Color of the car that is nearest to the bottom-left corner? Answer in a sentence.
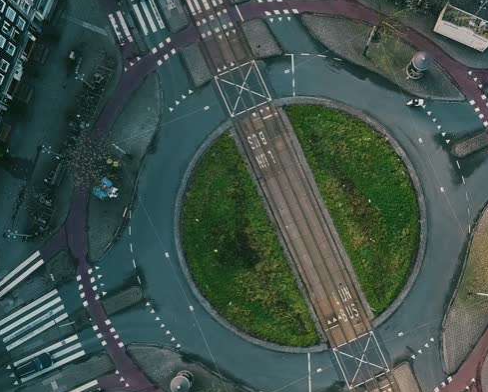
From above, the car that is nearest to the bottom-left corner appears black.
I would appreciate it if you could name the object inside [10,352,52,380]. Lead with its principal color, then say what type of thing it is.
black car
